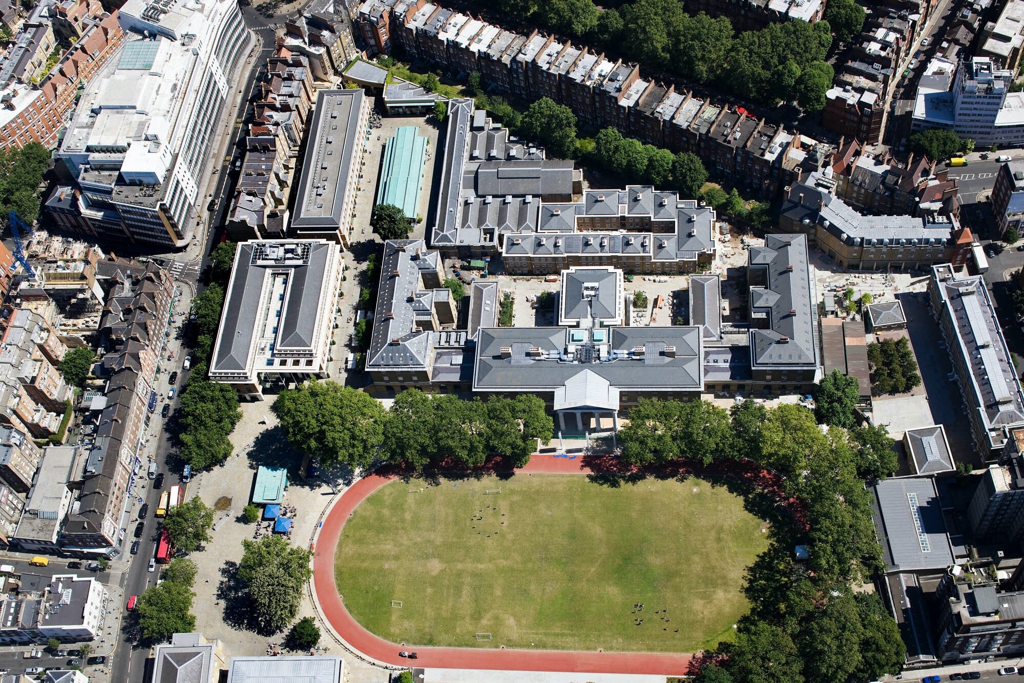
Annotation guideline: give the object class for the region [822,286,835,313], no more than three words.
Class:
building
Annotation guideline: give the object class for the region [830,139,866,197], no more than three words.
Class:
house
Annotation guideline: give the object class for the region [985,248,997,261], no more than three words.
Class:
vehicle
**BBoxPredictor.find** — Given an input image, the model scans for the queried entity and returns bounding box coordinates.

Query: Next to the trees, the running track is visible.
[311,453,829,677]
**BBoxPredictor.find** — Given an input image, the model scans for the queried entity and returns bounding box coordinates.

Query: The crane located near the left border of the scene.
[8,211,52,280]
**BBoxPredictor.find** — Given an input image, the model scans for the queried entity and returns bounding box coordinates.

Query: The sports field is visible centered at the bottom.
[334,473,808,653]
